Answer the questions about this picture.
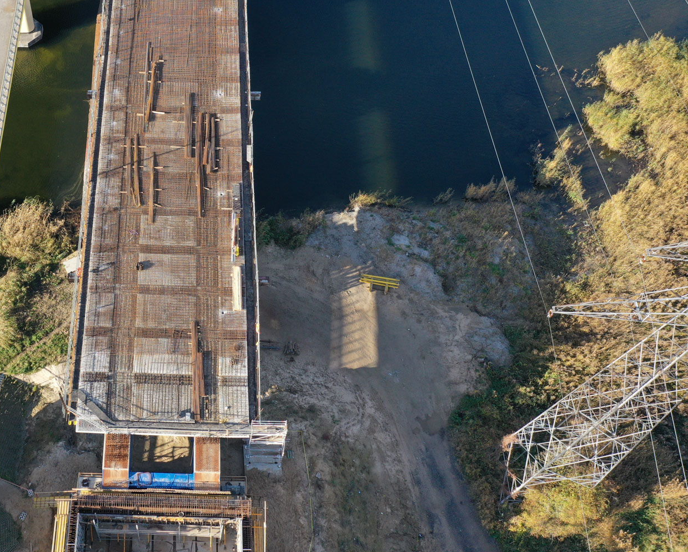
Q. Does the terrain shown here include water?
Yes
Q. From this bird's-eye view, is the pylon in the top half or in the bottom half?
bottom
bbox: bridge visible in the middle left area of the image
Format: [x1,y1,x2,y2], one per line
[60,0,262,499]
